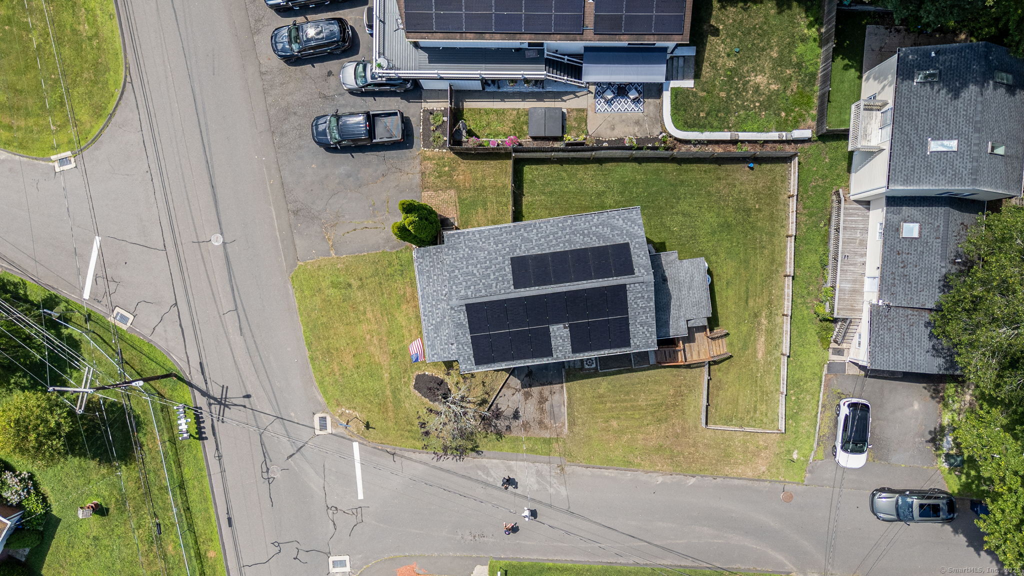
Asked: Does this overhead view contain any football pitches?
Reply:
No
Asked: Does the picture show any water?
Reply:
No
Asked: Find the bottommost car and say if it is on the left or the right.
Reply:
right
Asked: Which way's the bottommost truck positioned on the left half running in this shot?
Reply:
from side to side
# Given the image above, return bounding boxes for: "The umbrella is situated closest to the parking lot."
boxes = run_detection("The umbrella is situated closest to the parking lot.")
[452,121,468,140]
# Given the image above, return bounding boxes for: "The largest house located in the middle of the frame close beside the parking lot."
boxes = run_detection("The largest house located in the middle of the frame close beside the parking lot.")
[412,204,714,375]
